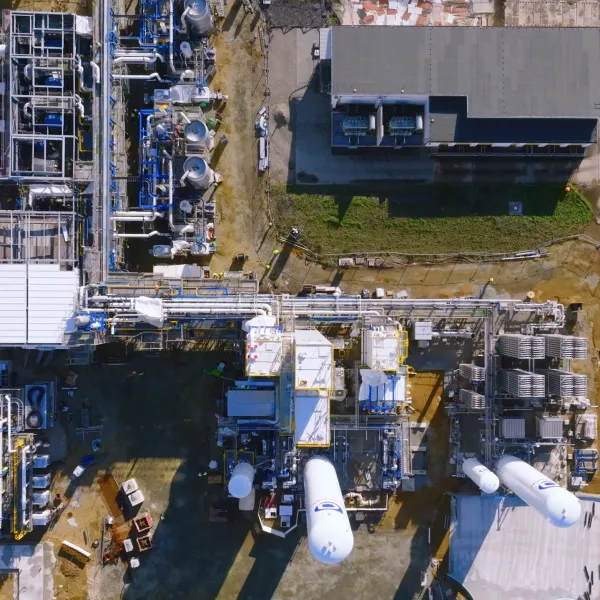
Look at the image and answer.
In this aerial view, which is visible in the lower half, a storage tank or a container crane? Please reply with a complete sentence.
There is a storage tank in the lower half.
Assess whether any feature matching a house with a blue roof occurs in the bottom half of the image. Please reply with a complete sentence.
Yes, there is a house with a blue roof in the bottom half of the image.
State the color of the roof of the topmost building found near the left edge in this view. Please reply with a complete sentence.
The roof of the topmost building found near the left edge is white.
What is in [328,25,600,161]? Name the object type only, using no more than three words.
warehouse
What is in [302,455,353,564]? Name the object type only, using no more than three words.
storage tank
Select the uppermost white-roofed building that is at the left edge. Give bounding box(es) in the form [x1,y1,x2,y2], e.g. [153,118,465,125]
[0,264,100,350]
